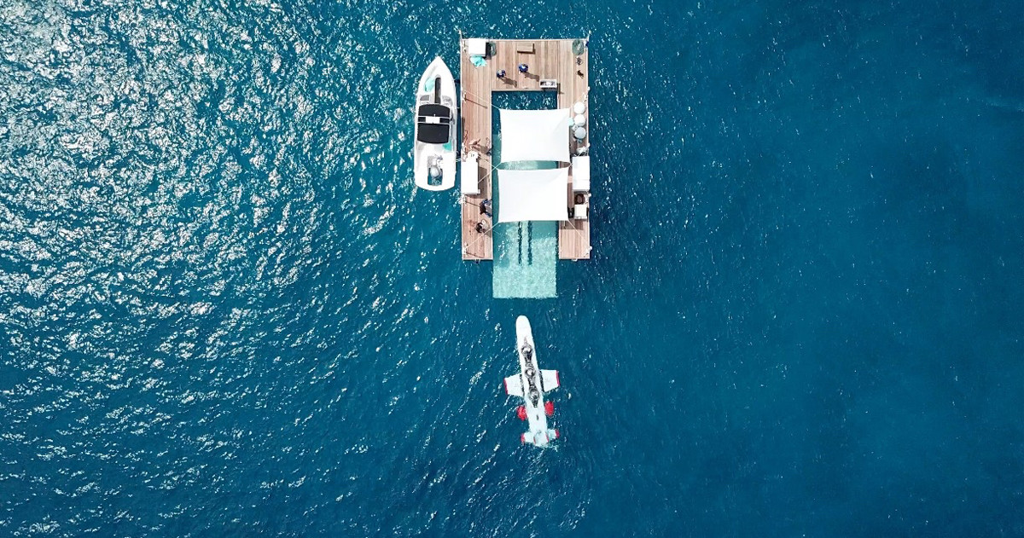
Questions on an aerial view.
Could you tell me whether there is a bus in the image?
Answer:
No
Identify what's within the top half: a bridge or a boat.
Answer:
boat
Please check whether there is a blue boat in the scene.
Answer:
No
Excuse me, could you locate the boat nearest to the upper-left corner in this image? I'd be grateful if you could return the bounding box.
[415,56,458,191]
